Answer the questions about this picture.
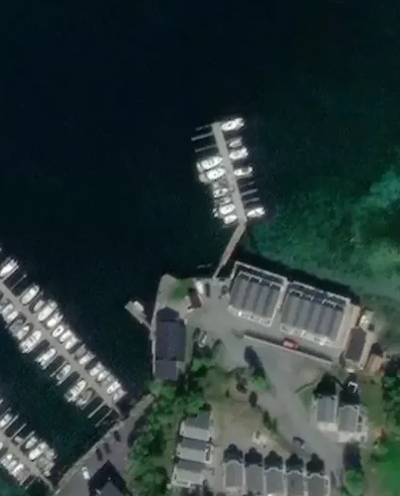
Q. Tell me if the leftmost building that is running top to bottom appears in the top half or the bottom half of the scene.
bottom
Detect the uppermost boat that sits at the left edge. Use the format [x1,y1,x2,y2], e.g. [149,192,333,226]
[0,260,17,276]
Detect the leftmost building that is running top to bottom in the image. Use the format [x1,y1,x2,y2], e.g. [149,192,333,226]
[155,309,187,382]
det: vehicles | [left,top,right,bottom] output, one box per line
[196,281,204,295]
[94,448,104,461]
[103,442,112,455]
[199,332,208,345]
[293,437,306,446]
[283,340,297,348]
[192,328,201,340]
[113,430,122,444]
[80,468,90,481]
[204,284,211,297]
